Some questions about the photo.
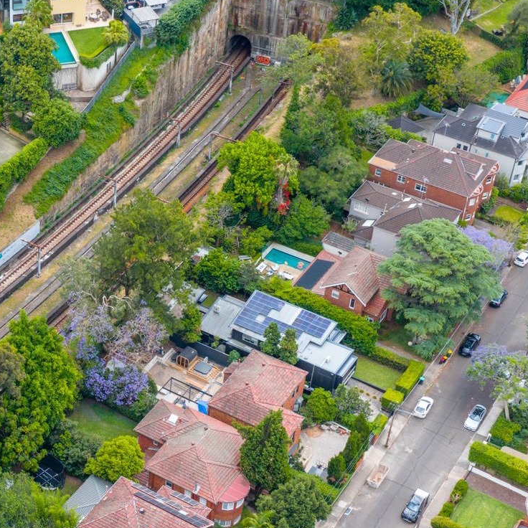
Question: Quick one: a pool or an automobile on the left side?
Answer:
pool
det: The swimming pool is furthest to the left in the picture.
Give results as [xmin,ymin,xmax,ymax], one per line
[48,29,75,66]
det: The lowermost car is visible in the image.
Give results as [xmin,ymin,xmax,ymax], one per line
[402,479,439,526]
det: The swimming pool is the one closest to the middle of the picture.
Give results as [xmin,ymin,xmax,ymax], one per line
[254,237,317,276]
